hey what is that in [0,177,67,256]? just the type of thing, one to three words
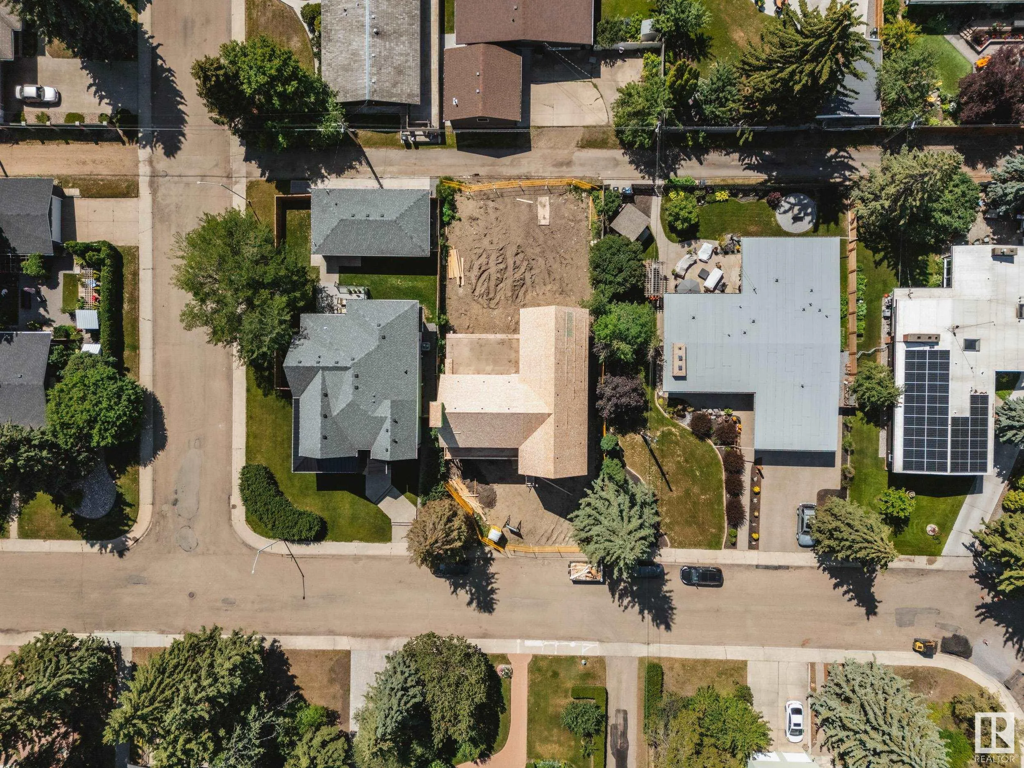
building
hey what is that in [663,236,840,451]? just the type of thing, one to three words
house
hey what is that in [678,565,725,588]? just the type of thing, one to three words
car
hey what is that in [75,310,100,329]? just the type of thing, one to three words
shed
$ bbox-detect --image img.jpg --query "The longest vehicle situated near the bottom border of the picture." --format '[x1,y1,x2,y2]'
[784,699,807,744]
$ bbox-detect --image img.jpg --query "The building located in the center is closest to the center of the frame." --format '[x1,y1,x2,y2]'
[430,306,589,479]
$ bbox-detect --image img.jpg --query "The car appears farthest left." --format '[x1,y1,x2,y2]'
[14,83,60,105]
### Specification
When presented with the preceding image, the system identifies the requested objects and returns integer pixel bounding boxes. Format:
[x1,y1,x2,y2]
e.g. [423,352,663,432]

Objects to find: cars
[429,560,472,581]
[784,699,807,744]
[796,502,819,546]
[622,560,665,582]
[14,83,60,105]
[678,565,725,588]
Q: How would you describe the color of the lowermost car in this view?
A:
white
